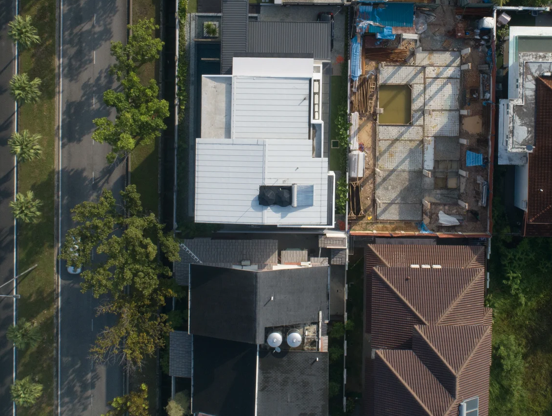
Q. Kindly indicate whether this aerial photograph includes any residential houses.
Yes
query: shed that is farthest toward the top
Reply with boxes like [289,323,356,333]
[357,0,415,33]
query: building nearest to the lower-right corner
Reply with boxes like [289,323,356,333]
[364,239,494,416]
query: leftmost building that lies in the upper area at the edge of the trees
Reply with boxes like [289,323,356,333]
[196,0,335,227]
